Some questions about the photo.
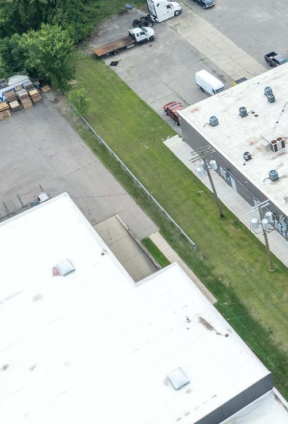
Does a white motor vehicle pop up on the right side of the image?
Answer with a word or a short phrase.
Yes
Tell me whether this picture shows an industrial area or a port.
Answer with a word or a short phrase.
industrial area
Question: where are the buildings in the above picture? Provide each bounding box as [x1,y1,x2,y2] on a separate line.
[0,193,273,424]
[177,62,288,238]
